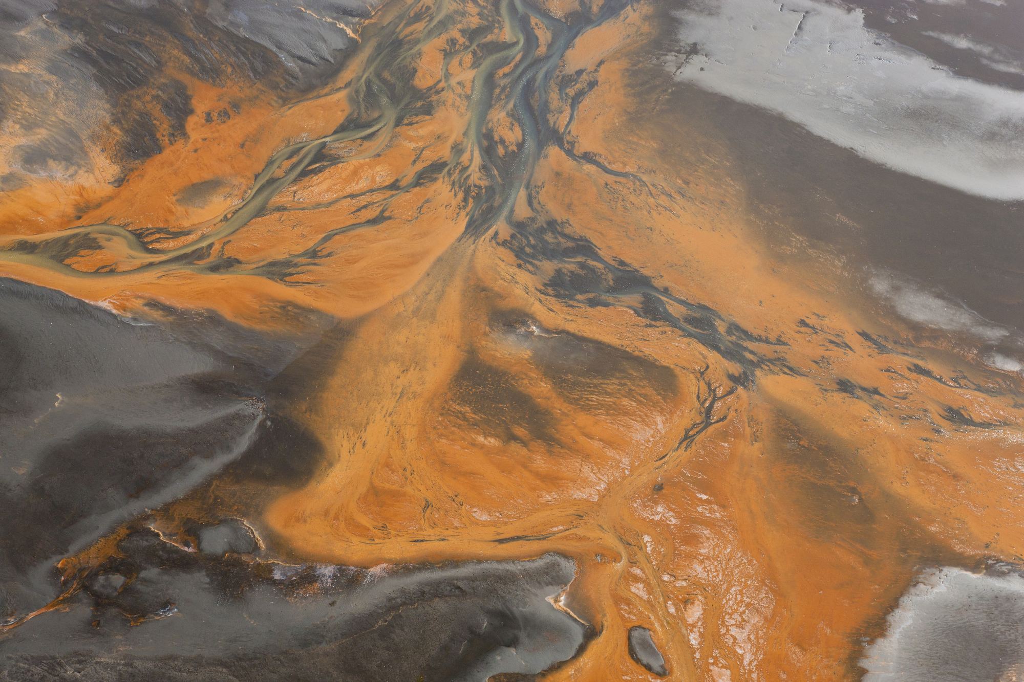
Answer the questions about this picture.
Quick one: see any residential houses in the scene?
No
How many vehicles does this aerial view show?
zero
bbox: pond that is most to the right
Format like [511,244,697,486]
[198,518,262,555]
